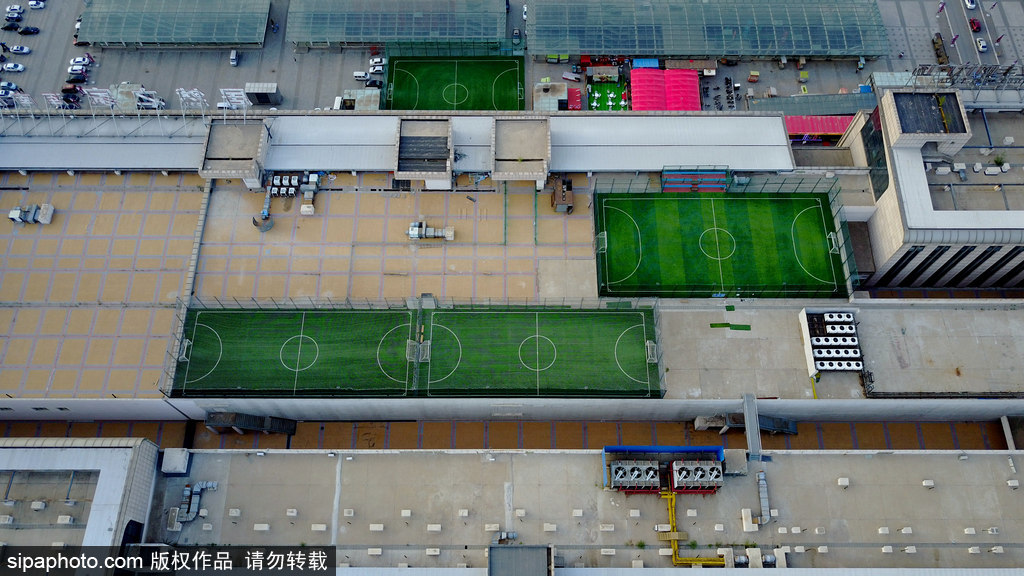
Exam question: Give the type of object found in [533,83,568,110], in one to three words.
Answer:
shed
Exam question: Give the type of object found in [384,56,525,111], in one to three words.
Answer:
soccer field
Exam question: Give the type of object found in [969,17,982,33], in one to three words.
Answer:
vehicle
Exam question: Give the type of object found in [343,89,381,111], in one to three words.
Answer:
shed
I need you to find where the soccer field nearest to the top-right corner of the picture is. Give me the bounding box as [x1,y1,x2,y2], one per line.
[598,194,848,286]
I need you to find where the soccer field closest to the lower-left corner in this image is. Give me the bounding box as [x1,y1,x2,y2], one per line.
[174,308,422,388]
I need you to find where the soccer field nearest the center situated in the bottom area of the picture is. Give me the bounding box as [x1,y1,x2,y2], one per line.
[418,309,664,398]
